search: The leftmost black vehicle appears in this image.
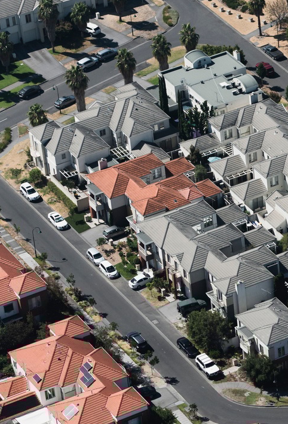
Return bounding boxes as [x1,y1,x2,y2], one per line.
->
[16,83,44,97]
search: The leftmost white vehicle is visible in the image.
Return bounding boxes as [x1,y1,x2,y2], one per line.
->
[19,179,42,199]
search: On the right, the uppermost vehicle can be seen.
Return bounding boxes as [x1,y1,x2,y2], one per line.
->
[262,43,285,58]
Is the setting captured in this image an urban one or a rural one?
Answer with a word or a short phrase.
urban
